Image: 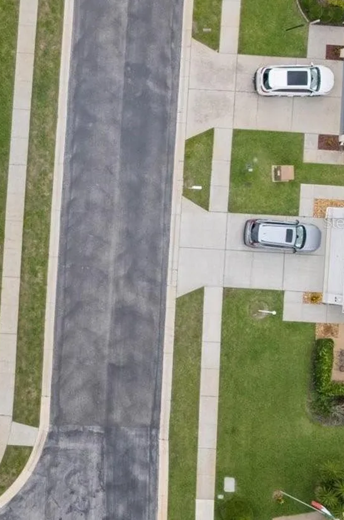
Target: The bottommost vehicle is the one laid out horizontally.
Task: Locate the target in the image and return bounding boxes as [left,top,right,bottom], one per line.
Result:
[240,217,322,257]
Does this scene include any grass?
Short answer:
Yes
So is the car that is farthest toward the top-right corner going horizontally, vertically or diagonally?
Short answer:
horizontally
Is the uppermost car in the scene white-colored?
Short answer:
Yes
